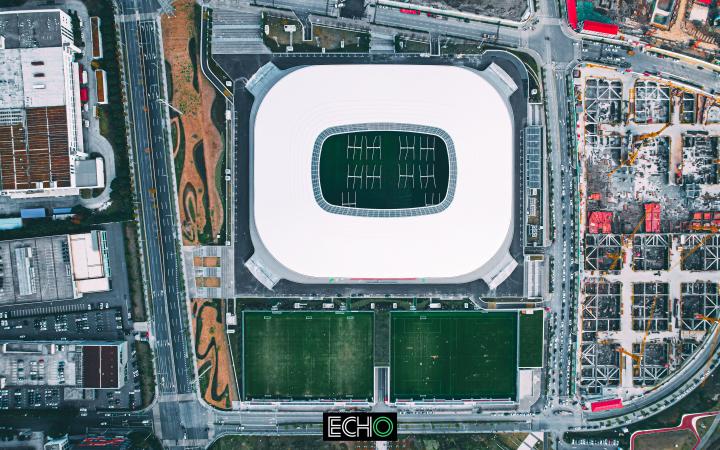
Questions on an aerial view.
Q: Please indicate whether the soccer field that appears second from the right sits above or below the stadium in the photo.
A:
below it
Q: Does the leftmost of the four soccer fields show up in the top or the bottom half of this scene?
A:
bottom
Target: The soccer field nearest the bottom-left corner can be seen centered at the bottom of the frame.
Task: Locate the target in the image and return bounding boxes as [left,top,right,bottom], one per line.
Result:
[242,311,374,401]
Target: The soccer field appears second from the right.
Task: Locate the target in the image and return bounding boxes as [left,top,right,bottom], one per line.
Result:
[390,311,520,401]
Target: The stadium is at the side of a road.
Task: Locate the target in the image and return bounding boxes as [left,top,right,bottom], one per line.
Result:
[245,62,518,290]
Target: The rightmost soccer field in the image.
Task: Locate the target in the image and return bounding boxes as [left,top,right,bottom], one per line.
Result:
[519,310,544,368]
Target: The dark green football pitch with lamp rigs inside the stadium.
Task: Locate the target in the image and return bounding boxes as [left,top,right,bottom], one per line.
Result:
[322,131,447,209]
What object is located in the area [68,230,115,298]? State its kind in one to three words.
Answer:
building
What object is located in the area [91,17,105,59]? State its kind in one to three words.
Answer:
shed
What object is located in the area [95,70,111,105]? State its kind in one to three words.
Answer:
shed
